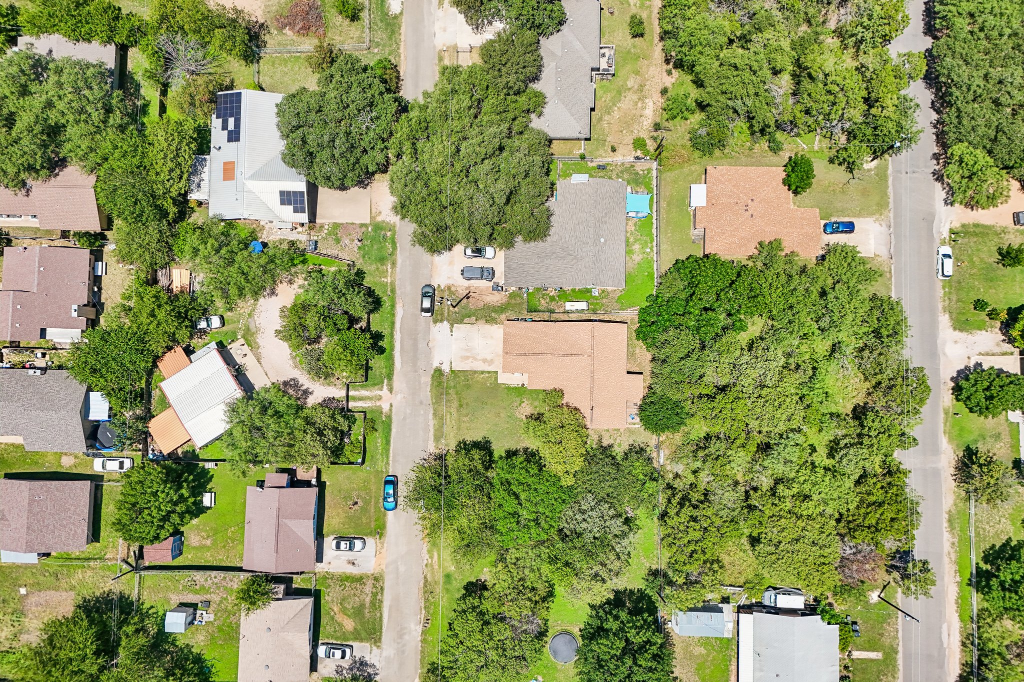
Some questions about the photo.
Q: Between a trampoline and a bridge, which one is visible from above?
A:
trampoline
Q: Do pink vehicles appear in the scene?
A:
No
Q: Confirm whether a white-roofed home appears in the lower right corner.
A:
Yes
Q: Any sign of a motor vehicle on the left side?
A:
Yes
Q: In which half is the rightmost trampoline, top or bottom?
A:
bottom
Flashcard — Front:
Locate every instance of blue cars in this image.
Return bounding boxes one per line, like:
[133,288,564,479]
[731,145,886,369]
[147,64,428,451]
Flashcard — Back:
[821,219,856,236]
[382,474,399,511]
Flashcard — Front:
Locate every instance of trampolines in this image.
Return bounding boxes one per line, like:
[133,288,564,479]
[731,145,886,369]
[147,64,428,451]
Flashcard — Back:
[548,629,580,663]
[89,421,122,450]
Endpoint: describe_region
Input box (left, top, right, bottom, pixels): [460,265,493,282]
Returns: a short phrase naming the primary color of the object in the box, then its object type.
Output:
gray vehicle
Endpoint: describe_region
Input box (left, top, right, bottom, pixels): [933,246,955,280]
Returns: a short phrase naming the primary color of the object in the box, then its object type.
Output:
white car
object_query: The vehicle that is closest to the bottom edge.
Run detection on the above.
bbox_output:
[318,641,354,660]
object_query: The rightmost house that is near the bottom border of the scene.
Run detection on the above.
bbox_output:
[733,608,840,682]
